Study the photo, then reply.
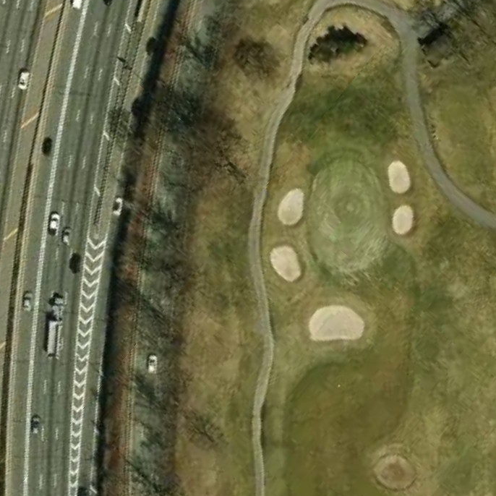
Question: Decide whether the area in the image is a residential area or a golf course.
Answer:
golf course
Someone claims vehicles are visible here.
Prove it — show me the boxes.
[72,0,81,7]
[113,195,122,215]
[32,415,40,433]
[23,291,32,310]
[147,36,157,55]
[47,294,63,359]
[42,137,51,155]
[147,354,156,372]
[78,486,86,496]
[18,69,28,88]
[49,214,59,232]
[61,228,70,245]
[132,98,142,118]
